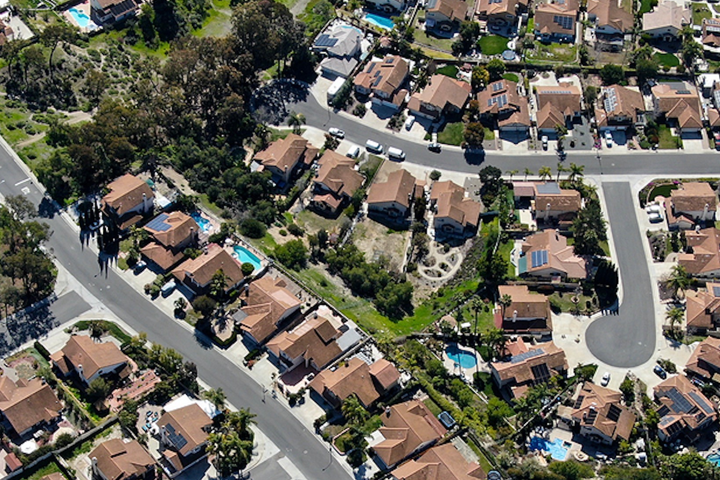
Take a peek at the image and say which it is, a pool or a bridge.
pool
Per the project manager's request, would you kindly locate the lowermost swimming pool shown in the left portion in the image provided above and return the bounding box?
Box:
[234,244,262,271]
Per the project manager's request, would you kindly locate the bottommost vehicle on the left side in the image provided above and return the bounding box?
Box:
[160,279,179,292]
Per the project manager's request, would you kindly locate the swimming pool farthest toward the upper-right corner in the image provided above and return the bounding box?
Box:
[358,10,395,31]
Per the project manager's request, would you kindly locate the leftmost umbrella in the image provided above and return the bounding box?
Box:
[21,440,38,454]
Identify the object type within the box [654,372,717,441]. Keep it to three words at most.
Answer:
house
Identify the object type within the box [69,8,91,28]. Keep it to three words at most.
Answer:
swimming pool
